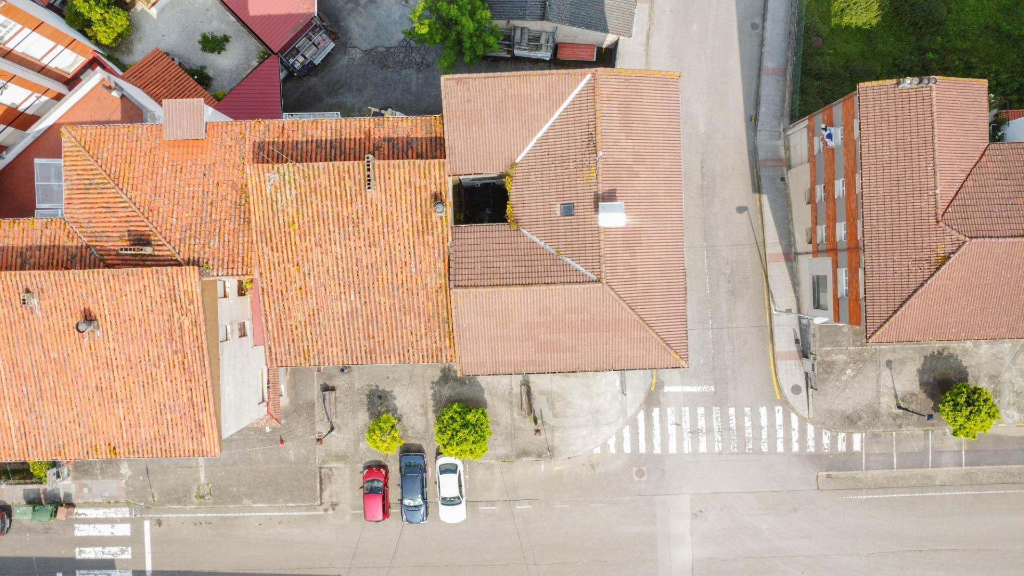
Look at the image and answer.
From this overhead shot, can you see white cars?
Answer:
Yes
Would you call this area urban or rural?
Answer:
urban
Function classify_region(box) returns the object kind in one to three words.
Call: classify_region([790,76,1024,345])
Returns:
building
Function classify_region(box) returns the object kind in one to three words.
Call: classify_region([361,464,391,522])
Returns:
car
